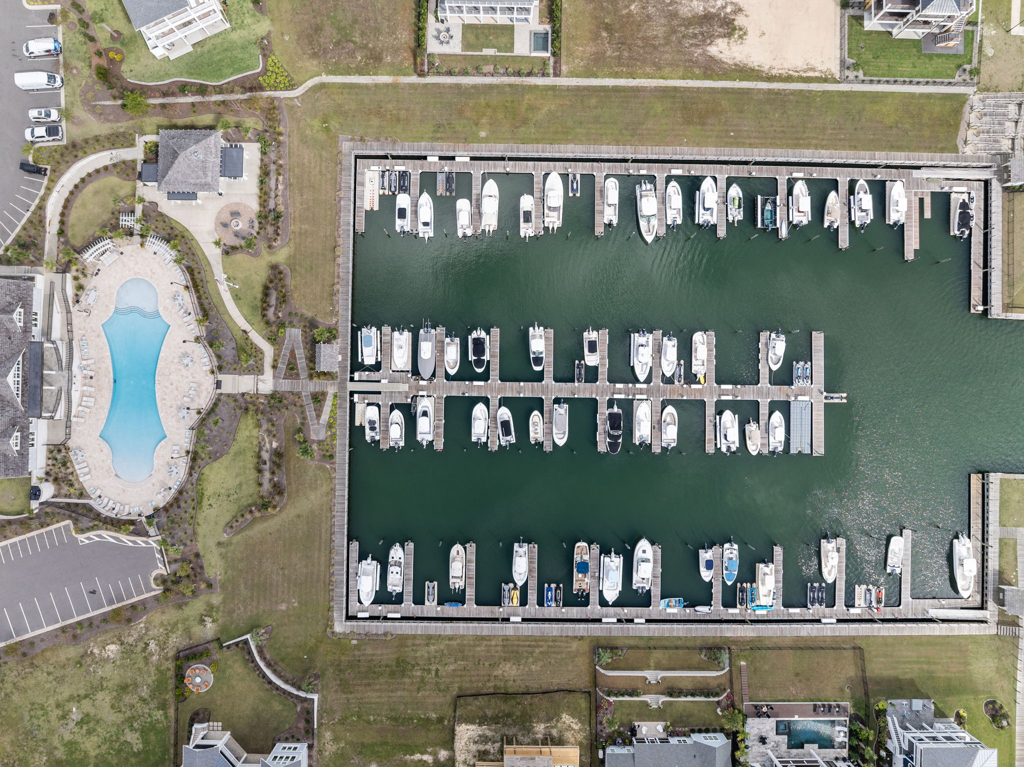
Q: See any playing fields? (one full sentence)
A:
No, the frame has no playing field in it.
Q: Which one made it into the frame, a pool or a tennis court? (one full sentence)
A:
The one in the frame is a pool.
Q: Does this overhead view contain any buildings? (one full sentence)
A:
Yes, the frame does contain a building.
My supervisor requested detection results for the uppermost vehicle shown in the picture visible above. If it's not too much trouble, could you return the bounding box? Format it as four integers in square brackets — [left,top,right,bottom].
[25,37,63,58]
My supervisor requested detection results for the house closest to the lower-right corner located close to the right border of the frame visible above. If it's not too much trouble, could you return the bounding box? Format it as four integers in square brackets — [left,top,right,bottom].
[884,718,998,767]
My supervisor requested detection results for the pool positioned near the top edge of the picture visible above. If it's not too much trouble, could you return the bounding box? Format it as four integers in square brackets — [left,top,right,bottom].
[531,28,551,53]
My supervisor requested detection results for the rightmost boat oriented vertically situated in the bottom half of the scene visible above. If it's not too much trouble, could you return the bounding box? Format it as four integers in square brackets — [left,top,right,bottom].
[950,531,977,598]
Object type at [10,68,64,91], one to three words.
vehicle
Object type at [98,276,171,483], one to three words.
swimming pool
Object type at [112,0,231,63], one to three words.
house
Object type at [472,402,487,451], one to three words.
boat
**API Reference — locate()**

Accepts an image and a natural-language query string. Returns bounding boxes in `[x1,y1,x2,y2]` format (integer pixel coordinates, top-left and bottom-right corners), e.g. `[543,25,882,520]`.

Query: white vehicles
[30,108,63,124]
[10,68,64,91]
[25,37,63,58]
[26,125,65,143]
